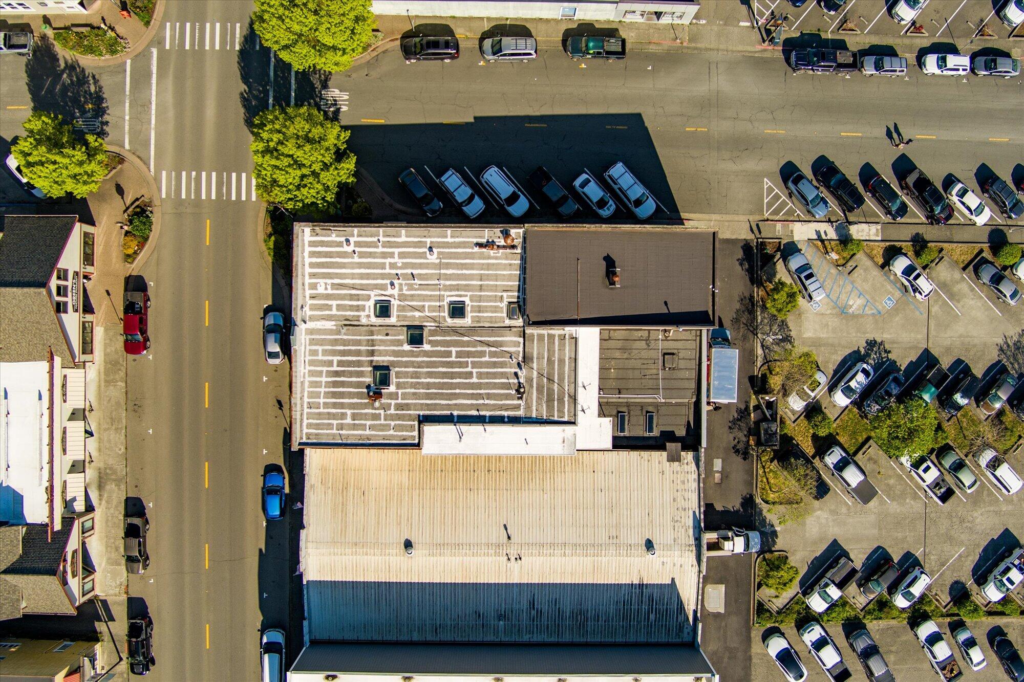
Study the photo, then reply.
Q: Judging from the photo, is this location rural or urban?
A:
urban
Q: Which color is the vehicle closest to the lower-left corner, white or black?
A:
black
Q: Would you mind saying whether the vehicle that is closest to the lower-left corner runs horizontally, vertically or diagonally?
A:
vertically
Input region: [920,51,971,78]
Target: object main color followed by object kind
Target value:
white car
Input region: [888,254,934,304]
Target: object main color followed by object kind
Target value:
white car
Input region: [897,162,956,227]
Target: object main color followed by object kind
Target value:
black truck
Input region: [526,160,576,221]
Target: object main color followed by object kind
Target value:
black truck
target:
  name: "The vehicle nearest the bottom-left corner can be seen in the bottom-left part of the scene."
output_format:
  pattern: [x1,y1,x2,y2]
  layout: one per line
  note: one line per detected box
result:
[124,615,155,676]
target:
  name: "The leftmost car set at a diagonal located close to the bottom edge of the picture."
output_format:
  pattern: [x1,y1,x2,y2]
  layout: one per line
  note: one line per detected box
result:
[761,630,811,682]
